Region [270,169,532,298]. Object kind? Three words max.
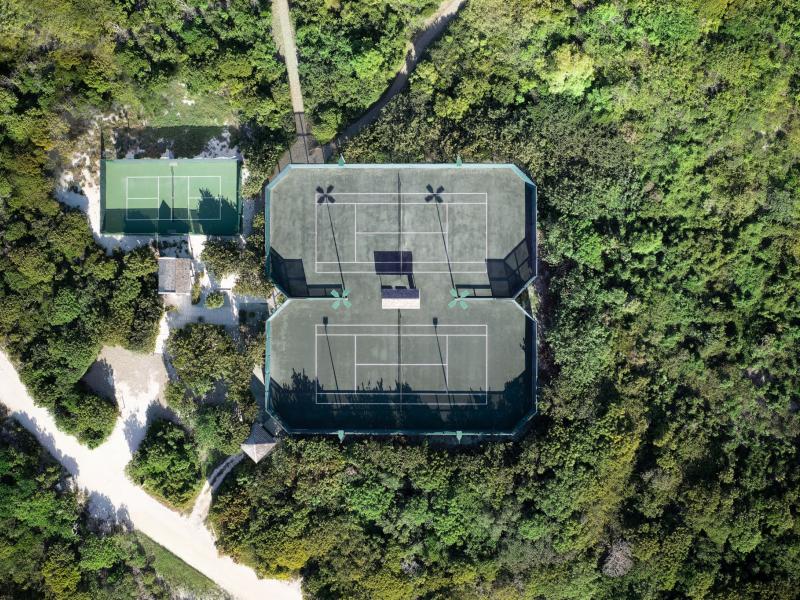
tennis court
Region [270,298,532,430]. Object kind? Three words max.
tennis court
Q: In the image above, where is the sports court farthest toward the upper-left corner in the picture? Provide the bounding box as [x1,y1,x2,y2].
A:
[107,162,237,237]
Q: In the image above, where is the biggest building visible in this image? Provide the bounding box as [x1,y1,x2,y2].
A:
[159,257,196,306]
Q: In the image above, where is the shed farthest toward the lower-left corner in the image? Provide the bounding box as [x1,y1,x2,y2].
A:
[241,424,278,462]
